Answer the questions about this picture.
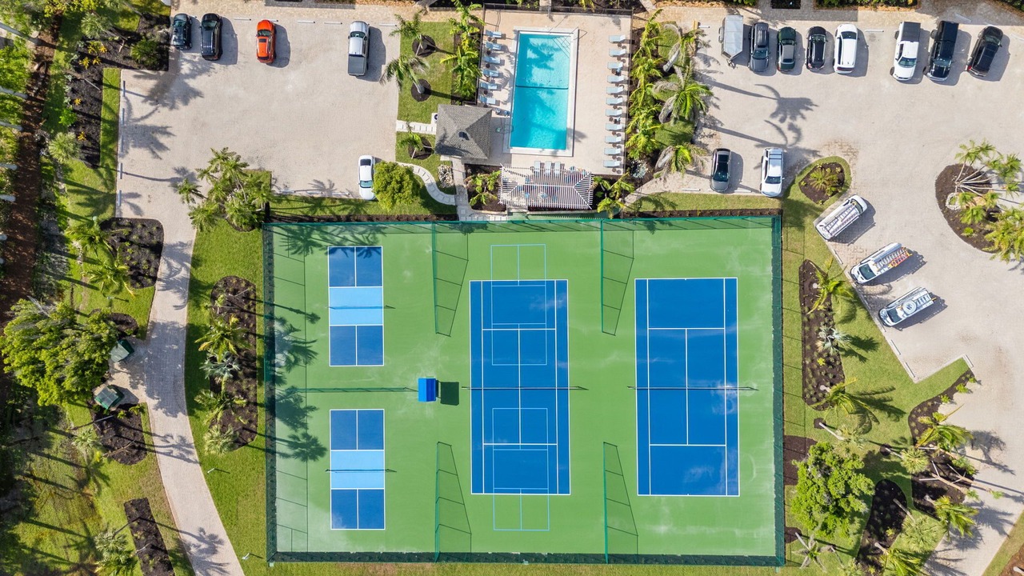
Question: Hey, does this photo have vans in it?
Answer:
Yes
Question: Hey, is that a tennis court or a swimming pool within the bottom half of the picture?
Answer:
tennis court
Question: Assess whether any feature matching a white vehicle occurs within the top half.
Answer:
Yes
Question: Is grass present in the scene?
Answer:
Yes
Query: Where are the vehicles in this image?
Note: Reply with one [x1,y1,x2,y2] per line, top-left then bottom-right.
[834,26,858,73]
[348,21,370,77]
[748,22,771,72]
[890,21,920,82]
[171,13,194,52]
[710,148,732,193]
[851,243,917,282]
[254,20,277,64]
[200,14,224,61]
[925,21,957,85]
[878,287,941,325]
[775,27,798,73]
[356,156,377,200]
[967,27,1000,76]
[815,197,865,240]
[761,149,784,196]
[804,27,828,72]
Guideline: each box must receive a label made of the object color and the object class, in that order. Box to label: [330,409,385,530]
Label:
blue sports court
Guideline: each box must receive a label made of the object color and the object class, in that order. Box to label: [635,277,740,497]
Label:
blue tennis court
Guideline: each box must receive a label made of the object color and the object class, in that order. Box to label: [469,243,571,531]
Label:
blue tennis court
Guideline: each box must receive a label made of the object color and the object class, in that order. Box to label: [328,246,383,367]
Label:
blue sports court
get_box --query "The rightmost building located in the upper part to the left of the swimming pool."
[435,104,492,159]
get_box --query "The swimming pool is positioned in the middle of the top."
[505,27,580,156]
